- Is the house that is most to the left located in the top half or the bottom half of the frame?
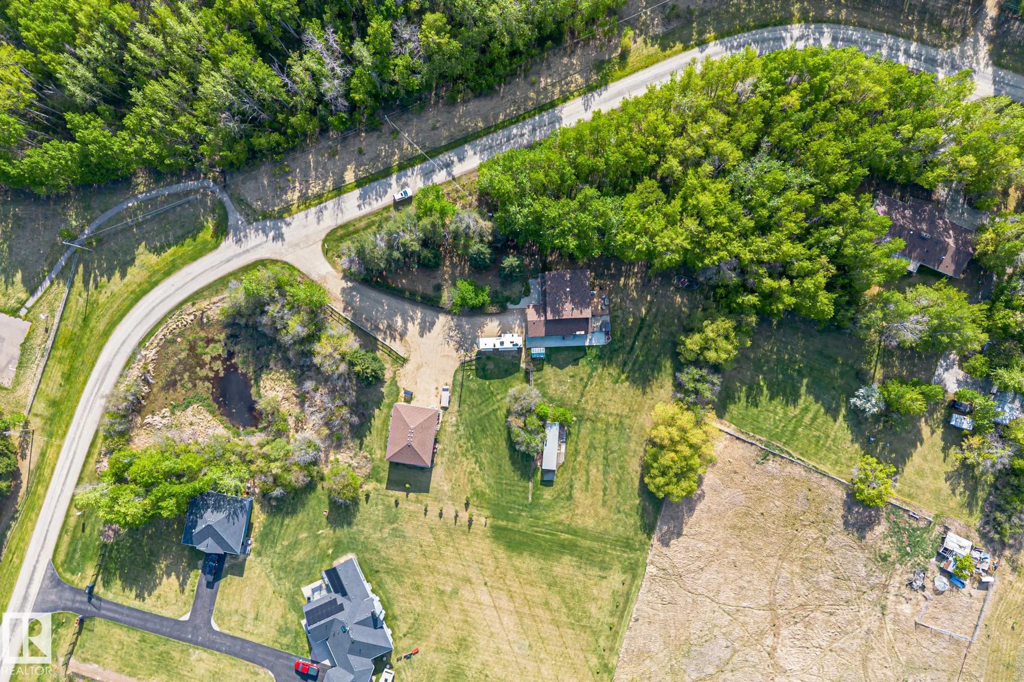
bottom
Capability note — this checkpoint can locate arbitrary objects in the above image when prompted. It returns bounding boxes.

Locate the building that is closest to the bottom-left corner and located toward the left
[181,491,258,557]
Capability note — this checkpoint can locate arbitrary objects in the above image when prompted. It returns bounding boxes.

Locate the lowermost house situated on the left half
[303,553,394,682]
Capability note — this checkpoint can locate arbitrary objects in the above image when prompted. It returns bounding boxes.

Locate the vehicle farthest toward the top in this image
[392,188,412,202]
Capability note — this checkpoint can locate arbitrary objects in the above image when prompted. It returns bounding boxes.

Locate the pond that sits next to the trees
[213,358,264,428]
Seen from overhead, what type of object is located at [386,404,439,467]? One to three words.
building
